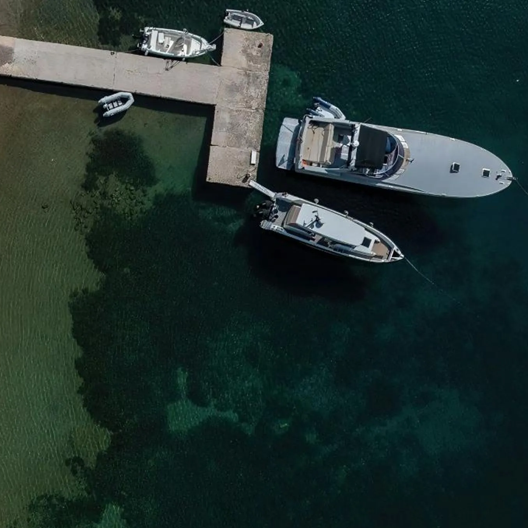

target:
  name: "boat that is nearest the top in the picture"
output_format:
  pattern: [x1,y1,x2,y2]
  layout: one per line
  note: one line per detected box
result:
[221,8,263,29]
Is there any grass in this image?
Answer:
No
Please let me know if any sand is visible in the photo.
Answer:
Yes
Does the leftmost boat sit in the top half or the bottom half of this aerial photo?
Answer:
top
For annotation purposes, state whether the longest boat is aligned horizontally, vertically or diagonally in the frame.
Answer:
horizontally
